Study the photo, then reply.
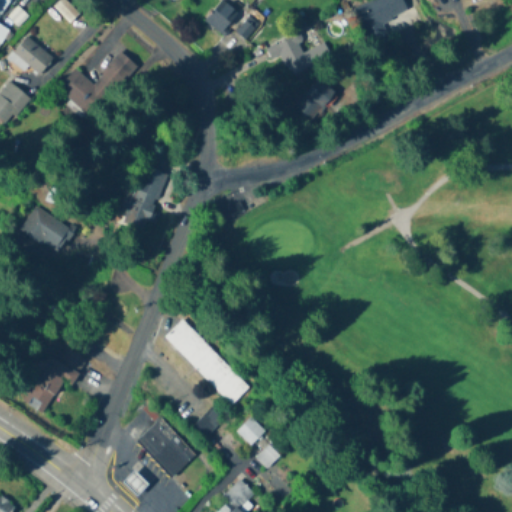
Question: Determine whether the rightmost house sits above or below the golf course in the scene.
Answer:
above it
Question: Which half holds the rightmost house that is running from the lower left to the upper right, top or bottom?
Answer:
top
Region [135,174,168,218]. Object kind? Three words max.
house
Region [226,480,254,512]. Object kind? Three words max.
house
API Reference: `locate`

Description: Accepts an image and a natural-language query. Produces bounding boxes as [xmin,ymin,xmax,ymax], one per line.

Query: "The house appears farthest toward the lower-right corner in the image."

[256,444,282,470]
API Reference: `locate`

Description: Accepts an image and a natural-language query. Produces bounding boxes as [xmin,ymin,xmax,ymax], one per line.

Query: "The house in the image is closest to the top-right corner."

[354,0,414,34]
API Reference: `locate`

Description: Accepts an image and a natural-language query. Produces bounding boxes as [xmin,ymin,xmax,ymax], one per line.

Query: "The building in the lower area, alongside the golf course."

[166,320,250,403]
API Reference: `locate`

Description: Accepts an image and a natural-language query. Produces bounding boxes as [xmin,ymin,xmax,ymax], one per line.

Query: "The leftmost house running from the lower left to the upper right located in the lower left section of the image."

[26,370,78,412]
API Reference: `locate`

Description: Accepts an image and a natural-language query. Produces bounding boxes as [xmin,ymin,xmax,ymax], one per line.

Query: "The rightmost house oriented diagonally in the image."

[302,88,336,116]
